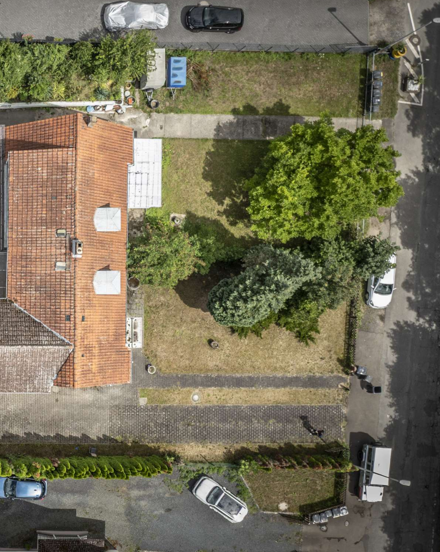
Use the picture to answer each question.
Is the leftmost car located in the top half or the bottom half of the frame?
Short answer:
bottom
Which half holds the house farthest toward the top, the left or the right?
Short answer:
left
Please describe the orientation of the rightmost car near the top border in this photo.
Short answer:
from side to side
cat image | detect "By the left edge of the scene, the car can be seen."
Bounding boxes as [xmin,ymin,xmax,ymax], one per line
[0,473,47,503]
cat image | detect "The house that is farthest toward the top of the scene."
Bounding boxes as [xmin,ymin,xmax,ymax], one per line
[0,112,161,394]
